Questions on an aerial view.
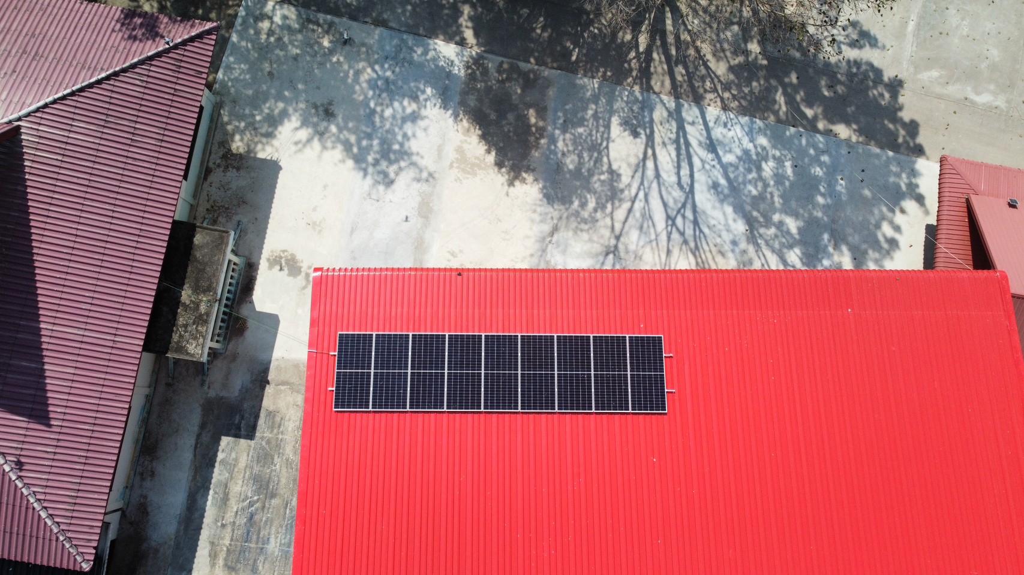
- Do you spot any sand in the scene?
No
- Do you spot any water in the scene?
No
